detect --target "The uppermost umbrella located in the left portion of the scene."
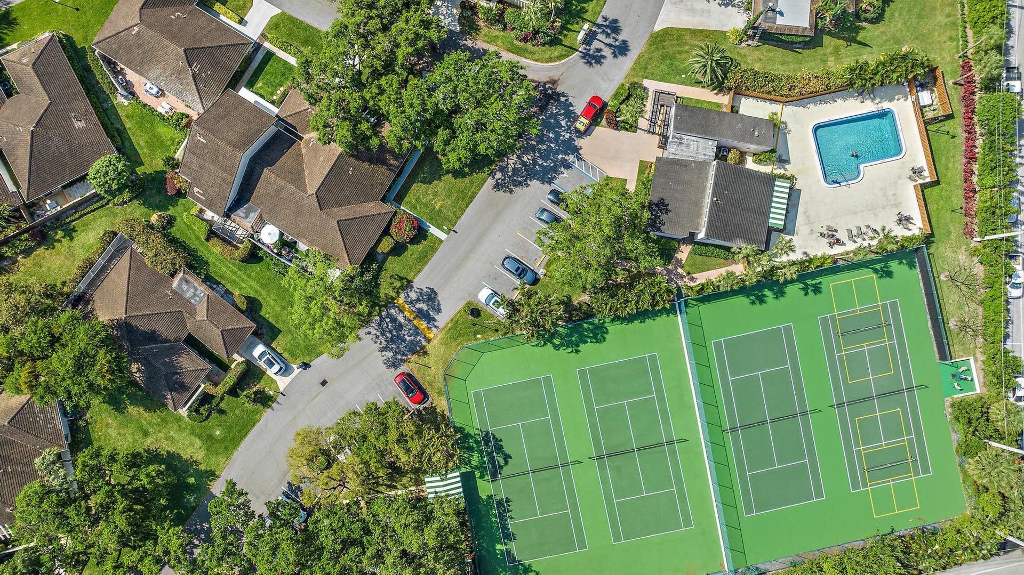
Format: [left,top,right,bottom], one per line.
[257,224,276,243]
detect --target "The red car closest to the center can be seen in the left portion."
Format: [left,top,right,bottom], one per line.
[393,371,424,406]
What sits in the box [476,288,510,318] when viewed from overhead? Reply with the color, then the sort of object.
white car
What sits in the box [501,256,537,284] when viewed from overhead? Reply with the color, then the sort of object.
blue car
